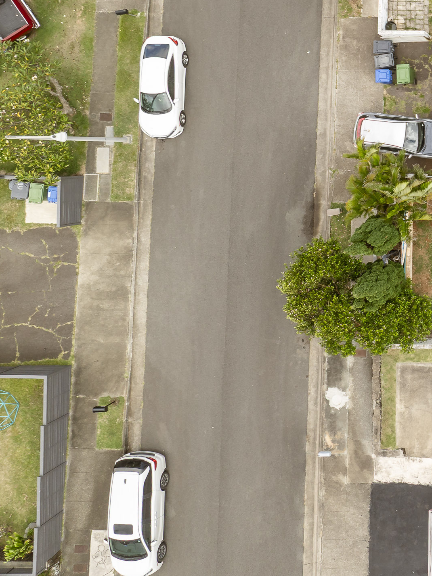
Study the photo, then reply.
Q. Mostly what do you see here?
paved ground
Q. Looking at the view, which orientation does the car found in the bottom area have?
from top to bottom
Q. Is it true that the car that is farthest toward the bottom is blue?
No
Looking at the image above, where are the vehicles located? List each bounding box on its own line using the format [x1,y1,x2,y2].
[352,115,432,164]
[0,0,44,50]
[97,451,161,572]
[127,37,185,138]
